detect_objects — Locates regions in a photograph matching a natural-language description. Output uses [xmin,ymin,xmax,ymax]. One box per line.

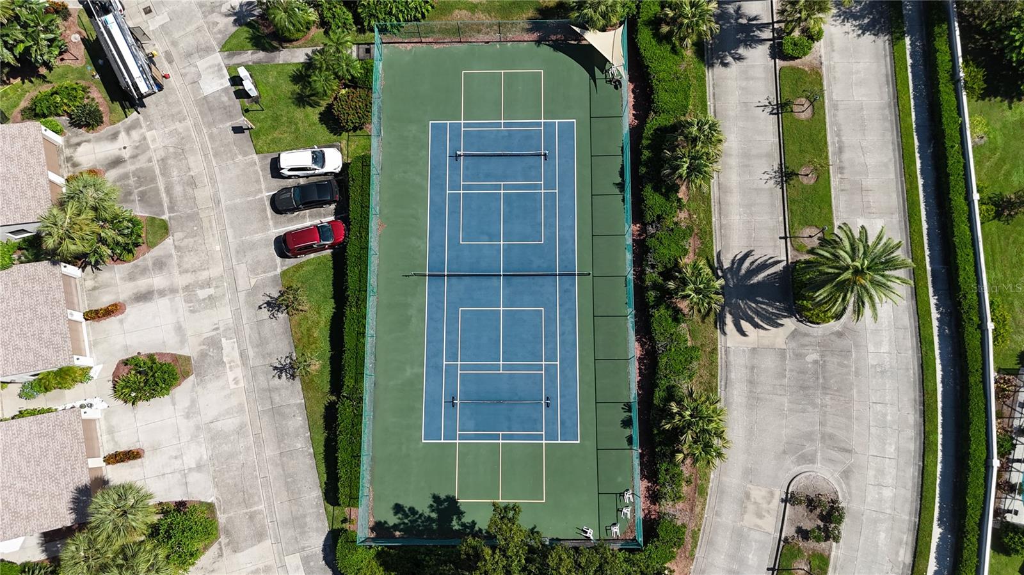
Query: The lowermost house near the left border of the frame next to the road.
[0,407,106,541]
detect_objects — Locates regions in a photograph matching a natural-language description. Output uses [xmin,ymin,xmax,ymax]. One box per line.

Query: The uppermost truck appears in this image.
[98,0,137,29]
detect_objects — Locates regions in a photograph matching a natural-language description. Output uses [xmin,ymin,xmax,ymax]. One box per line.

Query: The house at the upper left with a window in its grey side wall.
[0,113,67,239]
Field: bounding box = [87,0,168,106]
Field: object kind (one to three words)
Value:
trailer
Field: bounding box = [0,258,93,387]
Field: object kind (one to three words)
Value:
house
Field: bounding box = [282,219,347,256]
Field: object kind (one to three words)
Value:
car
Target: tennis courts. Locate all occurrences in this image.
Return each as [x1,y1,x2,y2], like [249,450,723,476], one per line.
[373,44,632,539]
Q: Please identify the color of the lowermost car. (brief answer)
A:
red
